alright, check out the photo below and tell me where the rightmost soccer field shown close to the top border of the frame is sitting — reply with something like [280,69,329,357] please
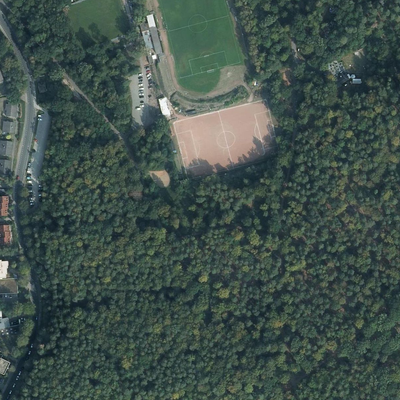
[155,0,244,93]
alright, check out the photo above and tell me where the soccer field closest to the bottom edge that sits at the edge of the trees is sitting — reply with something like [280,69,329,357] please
[173,100,280,179]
